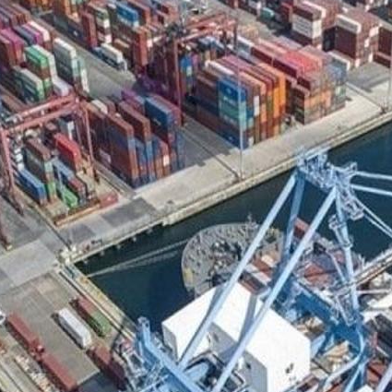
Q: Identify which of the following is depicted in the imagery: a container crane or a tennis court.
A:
container crane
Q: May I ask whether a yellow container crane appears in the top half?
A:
No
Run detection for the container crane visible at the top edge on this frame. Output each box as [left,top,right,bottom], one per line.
[152,5,239,128]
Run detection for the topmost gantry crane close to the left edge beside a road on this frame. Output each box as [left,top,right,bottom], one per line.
[3,91,98,221]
